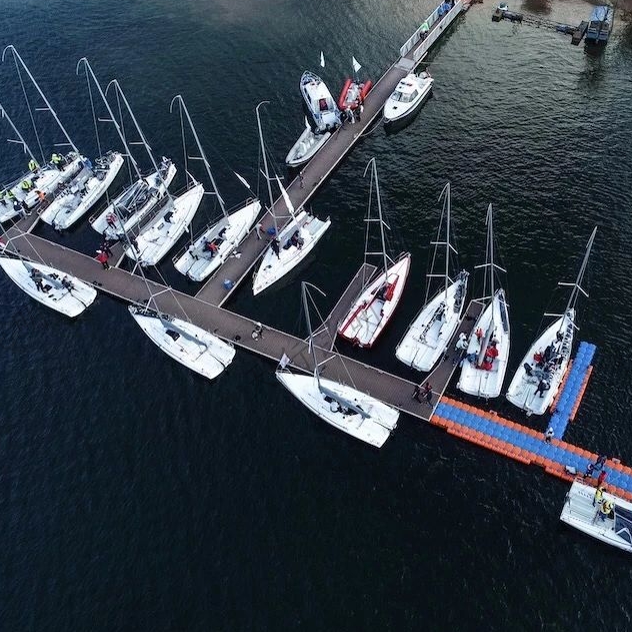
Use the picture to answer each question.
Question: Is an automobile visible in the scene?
No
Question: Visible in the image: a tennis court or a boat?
boat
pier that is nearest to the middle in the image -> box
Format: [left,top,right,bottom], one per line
[304,262,379,350]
